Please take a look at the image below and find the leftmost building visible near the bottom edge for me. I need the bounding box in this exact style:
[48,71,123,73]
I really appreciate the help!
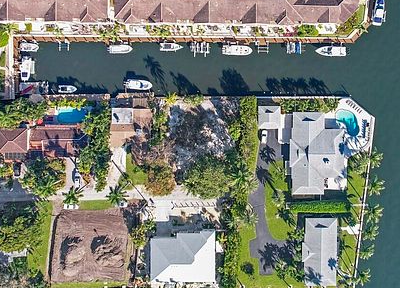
[150,227,224,282]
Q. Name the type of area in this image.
residential area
